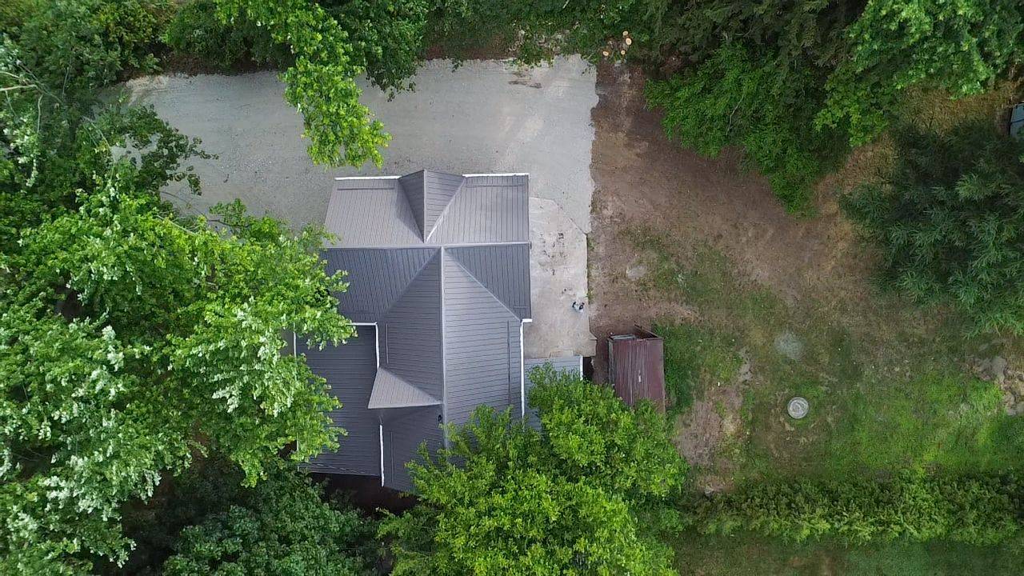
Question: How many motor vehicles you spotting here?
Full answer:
The photo contains no motor vehicles.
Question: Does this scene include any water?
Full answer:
No, the picture contains no water.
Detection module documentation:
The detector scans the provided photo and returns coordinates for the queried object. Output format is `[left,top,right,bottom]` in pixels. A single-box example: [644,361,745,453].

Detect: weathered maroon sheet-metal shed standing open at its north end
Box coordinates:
[608,319,666,417]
